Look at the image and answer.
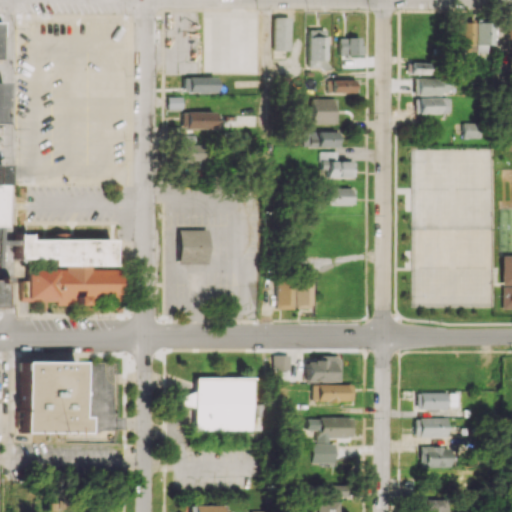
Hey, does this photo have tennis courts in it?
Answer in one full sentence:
Yes, there is a tennis court in the image.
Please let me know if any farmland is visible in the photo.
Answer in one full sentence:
No, no farmland is visible.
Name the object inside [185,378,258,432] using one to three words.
building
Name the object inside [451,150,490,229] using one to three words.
tennis court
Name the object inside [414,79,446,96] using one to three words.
house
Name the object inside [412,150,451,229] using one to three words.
tennis court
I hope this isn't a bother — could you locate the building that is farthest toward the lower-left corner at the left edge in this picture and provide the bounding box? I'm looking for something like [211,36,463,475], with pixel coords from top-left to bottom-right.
[20,361,98,434]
